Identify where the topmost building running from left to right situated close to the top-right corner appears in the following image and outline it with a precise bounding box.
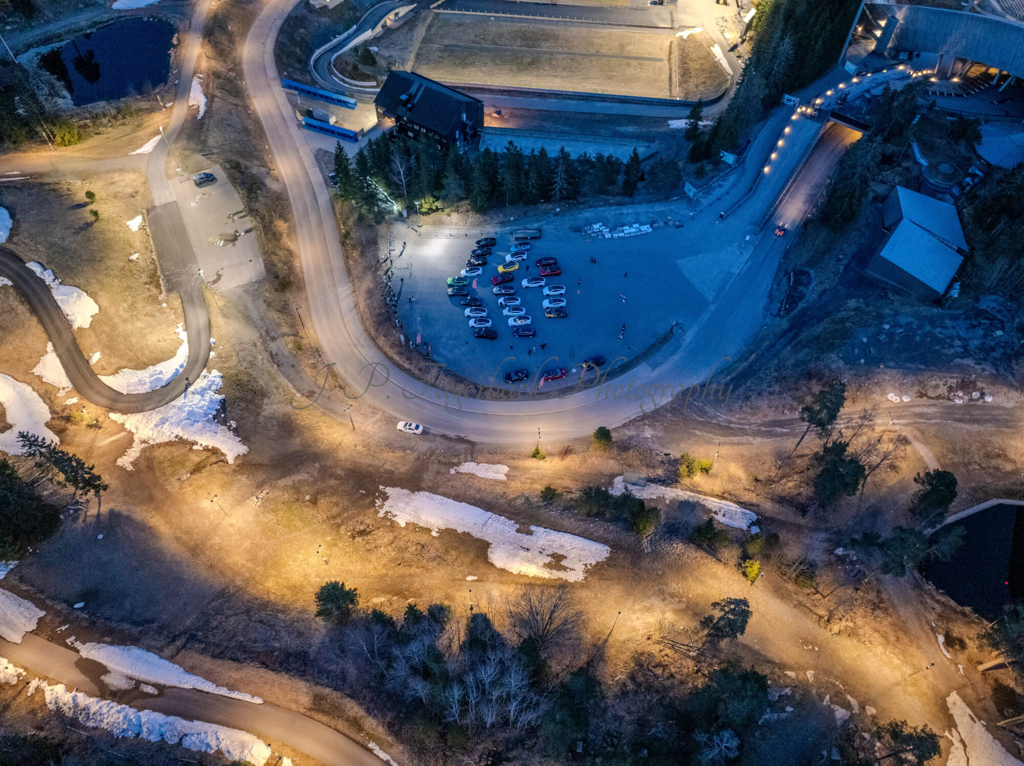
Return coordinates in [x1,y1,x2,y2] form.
[864,0,1024,91]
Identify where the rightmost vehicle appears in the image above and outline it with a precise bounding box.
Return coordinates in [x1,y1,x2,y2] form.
[774,222,787,237]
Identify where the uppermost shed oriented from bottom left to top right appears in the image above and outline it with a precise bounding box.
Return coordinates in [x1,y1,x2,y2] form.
[385,6,414,32]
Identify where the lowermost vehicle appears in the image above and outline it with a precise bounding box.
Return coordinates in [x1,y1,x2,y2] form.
[397,420,424,435]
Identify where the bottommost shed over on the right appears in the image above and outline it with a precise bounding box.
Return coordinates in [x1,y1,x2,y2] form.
[622,471,647,490]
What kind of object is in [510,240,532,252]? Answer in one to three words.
vehicle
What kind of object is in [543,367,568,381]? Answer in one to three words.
car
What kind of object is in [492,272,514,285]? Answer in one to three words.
vehicle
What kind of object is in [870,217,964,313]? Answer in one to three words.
house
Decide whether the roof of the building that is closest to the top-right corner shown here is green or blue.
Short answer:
blue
